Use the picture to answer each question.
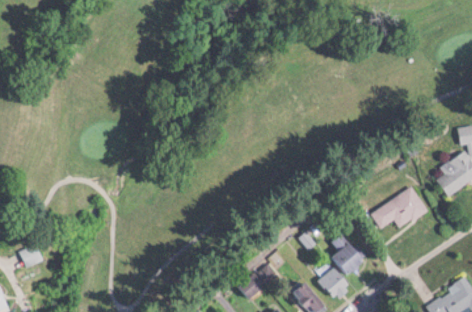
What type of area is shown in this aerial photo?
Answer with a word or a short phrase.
golf course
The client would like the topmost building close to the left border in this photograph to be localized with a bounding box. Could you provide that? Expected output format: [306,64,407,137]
[18,246,43,269]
